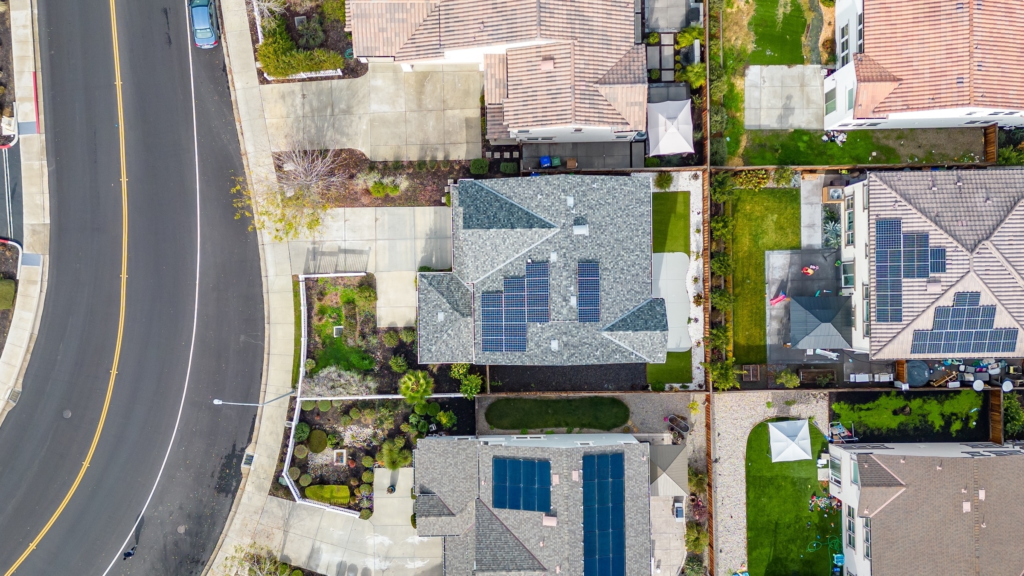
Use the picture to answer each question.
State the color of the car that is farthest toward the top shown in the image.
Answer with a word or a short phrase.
blue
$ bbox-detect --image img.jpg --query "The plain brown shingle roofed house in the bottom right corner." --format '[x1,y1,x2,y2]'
[829,443,1024,576]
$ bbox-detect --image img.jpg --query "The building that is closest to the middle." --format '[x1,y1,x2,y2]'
[416,173,670,367]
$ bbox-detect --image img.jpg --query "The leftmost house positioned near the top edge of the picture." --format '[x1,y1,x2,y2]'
[343,0,649,145]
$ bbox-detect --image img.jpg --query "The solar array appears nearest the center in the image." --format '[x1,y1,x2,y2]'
[481,264,550,352]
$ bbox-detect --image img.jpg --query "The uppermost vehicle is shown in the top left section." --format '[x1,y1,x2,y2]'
[188,0,221,50]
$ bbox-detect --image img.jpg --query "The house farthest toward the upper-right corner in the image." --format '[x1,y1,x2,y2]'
[824,0,1024,131]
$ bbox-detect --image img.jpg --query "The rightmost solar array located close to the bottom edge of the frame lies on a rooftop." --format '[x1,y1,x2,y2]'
[582,452,623,576]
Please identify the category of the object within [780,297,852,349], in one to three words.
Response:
gazebo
